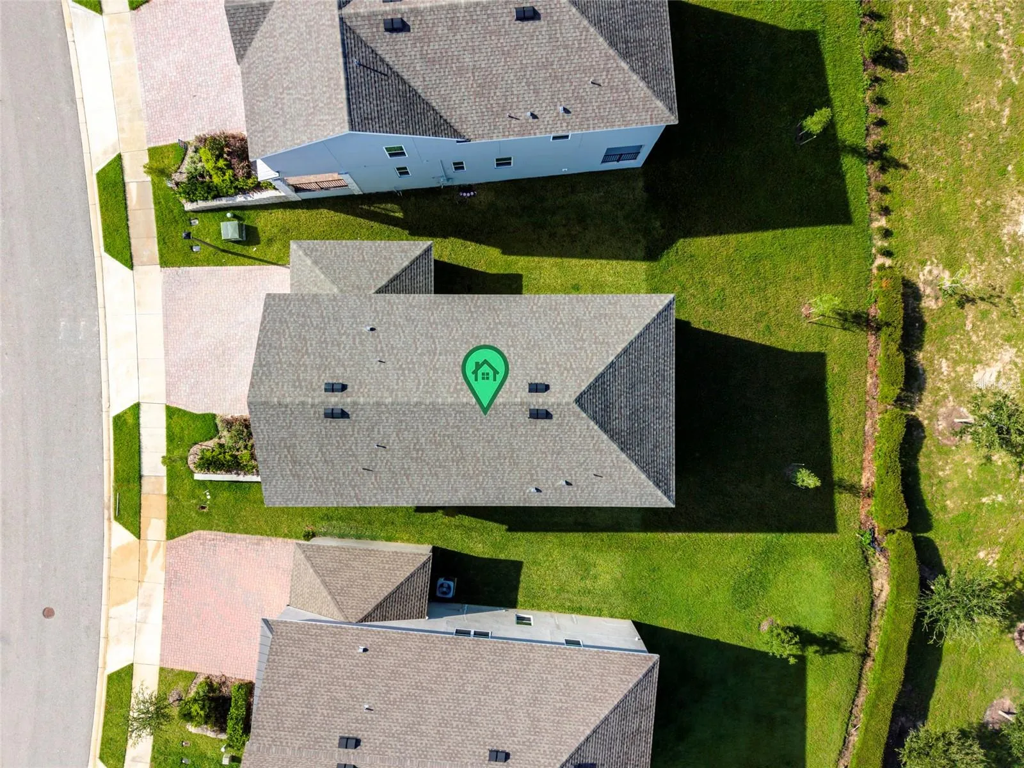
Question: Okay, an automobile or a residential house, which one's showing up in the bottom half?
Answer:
residential house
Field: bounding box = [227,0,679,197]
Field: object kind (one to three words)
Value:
house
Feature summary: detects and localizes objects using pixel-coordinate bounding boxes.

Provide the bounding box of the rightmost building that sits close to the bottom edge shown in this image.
[249,535,660,768]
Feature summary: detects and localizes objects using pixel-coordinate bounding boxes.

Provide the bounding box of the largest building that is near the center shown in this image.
[248,239,676,509]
